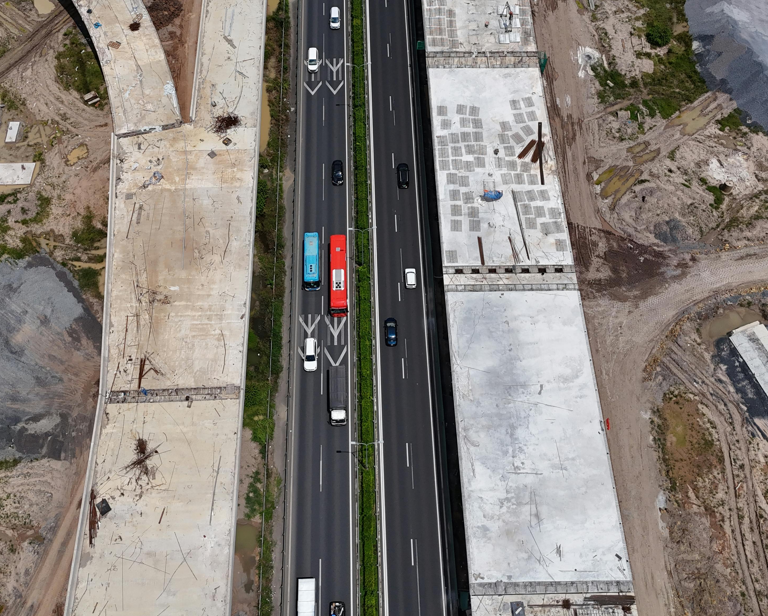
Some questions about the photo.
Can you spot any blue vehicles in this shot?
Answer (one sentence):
Yes, you can see a blue vehicle in this photo.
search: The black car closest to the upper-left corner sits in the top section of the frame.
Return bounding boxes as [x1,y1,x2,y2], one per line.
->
[330,161,344,185]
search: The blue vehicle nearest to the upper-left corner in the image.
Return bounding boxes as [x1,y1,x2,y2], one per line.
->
[301,233,321,289]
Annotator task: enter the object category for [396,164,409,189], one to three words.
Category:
vehicle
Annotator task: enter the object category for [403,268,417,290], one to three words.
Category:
vehicle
